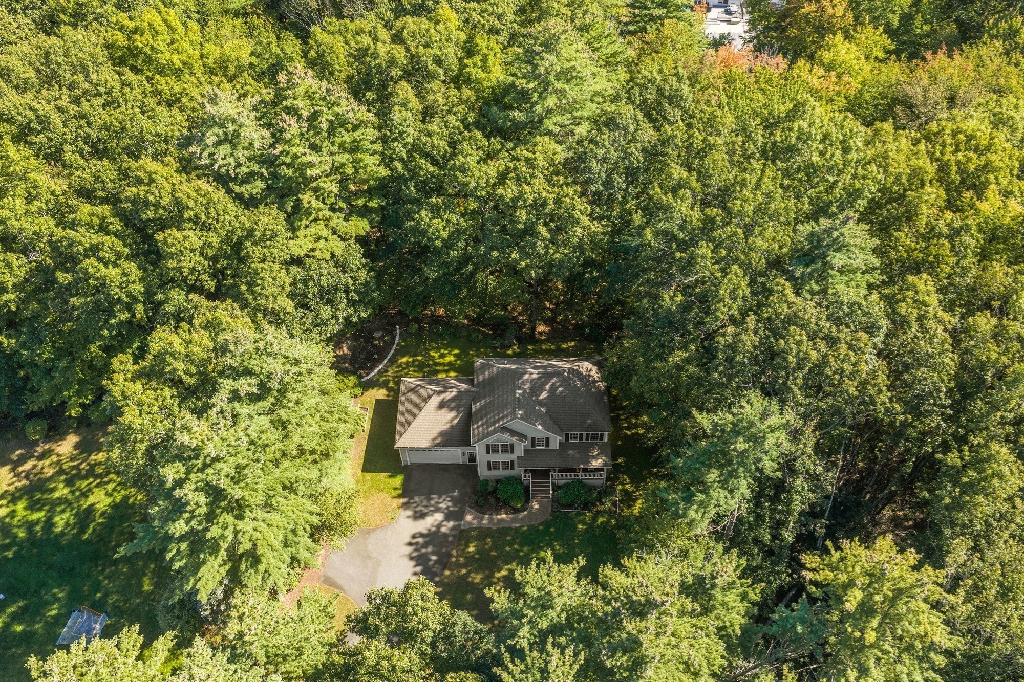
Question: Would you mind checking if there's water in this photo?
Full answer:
No, no water is visible.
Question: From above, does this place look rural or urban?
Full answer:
From above, the setting appears rural.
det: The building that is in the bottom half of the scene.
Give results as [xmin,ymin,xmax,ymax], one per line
[393,356,612,500]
